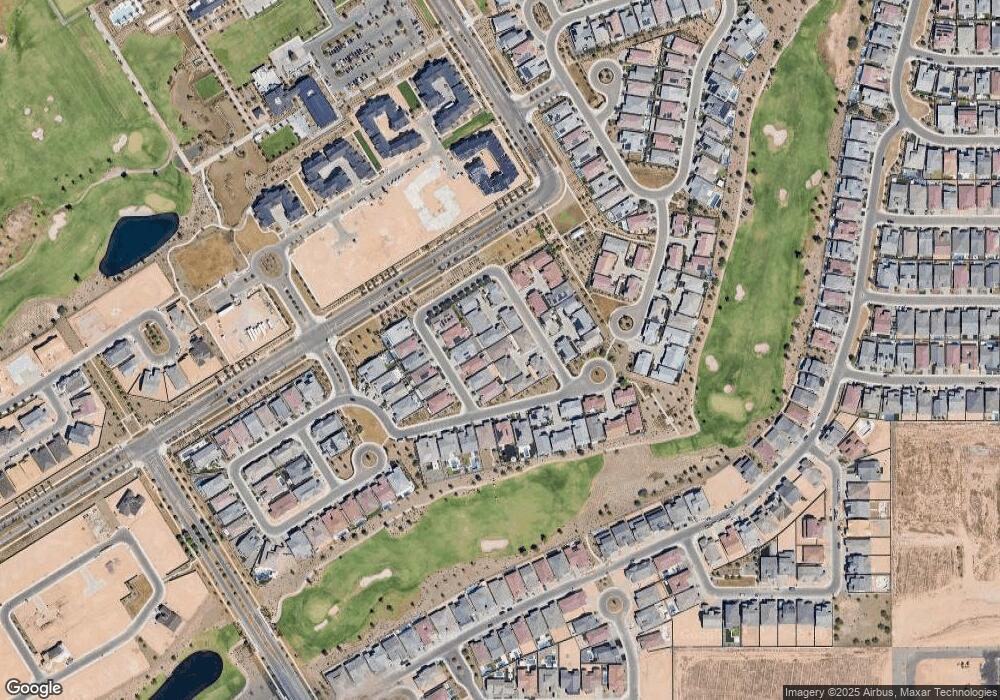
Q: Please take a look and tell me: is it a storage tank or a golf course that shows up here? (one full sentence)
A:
Of the two, only a golf course appears.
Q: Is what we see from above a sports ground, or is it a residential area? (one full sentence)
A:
This looks like a residential area.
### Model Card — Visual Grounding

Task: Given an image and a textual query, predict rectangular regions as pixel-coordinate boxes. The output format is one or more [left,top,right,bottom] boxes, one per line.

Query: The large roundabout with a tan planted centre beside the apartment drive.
[254,247,288,281]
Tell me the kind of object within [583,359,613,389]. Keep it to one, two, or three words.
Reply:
roundabout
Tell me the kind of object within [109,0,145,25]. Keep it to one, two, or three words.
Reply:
swimming pool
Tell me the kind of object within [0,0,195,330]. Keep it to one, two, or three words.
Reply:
golf course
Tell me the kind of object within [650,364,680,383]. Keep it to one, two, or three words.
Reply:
house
